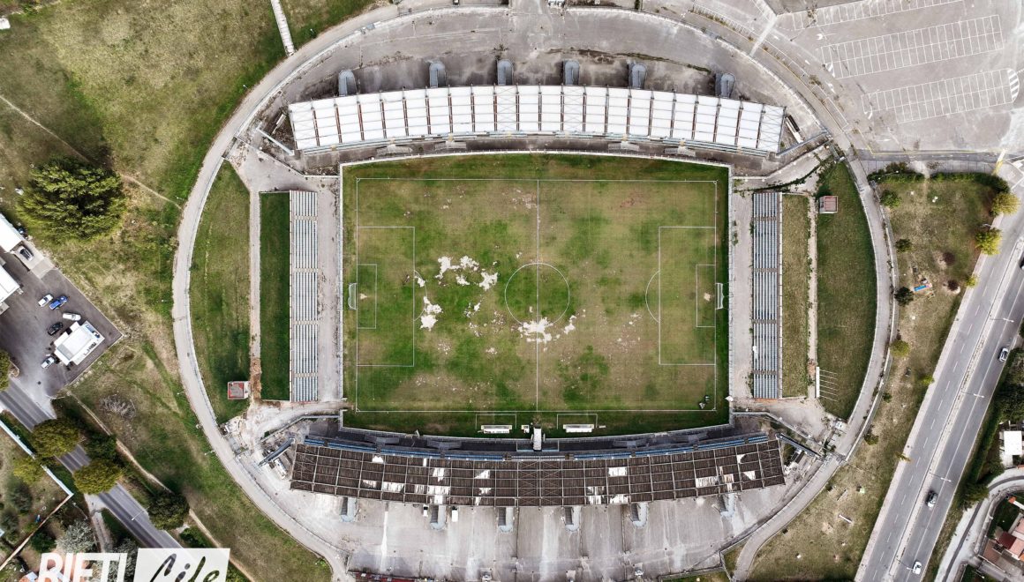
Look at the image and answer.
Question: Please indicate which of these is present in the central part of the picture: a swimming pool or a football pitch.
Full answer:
The one visible in the central part of the picture is a football pitch.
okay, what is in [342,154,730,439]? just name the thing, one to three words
soccer field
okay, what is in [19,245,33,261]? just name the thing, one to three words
car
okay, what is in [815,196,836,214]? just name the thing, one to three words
shed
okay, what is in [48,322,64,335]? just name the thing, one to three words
vehicle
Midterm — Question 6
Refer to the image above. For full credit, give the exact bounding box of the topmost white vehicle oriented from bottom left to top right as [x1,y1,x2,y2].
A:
[38,294,54,307]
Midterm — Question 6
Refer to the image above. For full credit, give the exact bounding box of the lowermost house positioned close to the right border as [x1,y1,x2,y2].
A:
[991,510,1024,563]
